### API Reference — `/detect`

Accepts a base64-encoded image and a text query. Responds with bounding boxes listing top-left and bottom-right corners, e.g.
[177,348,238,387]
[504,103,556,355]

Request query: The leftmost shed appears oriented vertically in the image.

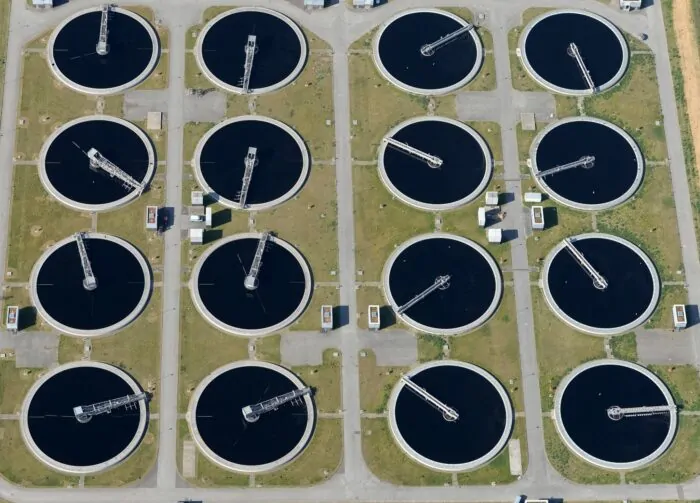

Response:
[5,305,19,334]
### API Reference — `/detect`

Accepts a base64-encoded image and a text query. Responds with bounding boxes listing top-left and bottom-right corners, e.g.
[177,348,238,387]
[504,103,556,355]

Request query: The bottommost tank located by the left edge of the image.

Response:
[20,362,148,474]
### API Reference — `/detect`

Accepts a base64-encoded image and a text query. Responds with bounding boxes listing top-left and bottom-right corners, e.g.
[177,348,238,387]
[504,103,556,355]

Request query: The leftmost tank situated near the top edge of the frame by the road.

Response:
[46,2,159,95]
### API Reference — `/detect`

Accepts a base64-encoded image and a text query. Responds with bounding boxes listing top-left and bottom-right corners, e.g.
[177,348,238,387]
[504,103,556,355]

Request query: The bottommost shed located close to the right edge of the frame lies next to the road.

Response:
[671,303,688,331]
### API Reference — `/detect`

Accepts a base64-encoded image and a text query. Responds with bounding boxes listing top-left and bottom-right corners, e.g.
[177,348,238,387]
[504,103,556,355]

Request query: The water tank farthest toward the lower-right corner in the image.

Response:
[549,359,678,470]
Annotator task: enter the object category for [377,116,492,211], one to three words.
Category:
water tank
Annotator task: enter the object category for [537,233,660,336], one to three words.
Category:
water tank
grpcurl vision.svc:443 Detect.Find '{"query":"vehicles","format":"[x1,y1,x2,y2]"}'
[515,495,522,503]
[191,215,202,221]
